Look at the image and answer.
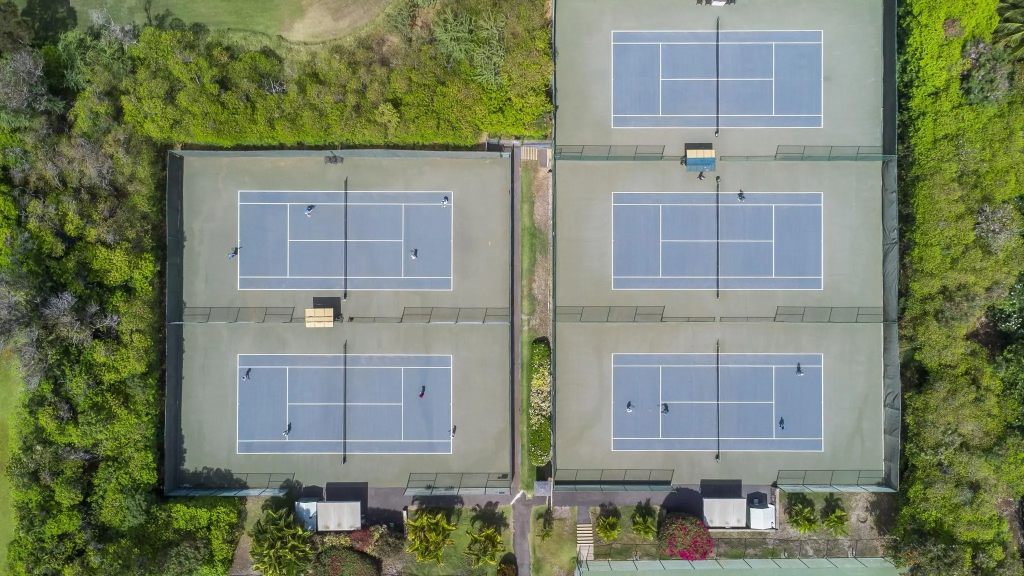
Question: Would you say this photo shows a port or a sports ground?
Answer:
sports ground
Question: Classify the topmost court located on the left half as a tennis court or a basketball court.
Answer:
tennis court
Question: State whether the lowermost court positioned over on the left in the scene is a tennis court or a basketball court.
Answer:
tennis court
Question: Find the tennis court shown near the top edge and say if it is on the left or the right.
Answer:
right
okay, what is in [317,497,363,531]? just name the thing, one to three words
shed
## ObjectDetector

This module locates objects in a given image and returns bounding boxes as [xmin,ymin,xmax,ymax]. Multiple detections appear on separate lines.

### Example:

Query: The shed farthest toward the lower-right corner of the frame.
[746,500,774,530]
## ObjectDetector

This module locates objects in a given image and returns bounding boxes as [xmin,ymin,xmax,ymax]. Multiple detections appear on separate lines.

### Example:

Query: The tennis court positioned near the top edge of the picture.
[555,0,883,160]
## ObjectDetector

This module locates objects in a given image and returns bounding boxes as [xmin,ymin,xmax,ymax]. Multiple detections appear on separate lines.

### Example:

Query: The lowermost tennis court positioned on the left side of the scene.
[180,322,511,487]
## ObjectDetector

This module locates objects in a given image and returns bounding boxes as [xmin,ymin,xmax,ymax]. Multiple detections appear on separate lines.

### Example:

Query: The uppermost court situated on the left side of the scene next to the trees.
[180,156,511,322]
